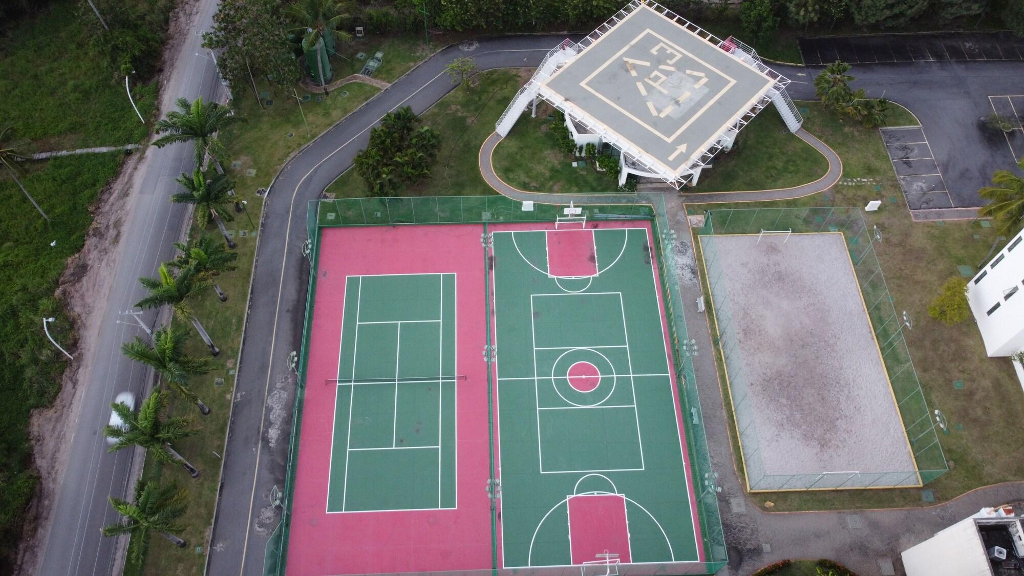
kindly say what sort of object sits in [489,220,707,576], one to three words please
basketball court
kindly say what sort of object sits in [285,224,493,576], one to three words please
tennis court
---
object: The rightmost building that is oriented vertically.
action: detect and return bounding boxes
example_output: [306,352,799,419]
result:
[967,228,1024,356]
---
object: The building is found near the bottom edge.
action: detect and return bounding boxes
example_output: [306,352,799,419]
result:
[900,501,1024,576]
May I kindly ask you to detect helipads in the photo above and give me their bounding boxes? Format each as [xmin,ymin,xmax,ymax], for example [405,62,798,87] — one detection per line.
[495,0,810,192]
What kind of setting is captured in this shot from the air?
sports ground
